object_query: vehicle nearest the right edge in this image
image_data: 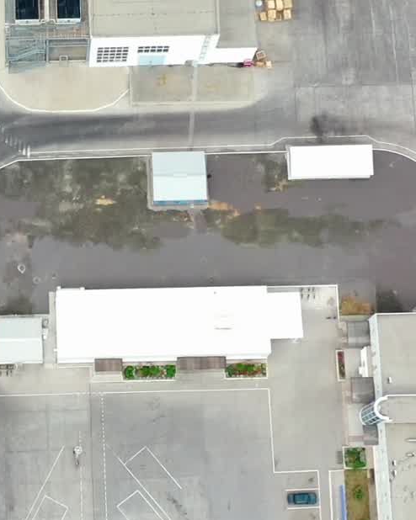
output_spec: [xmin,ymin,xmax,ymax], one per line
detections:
[285,491,315,505]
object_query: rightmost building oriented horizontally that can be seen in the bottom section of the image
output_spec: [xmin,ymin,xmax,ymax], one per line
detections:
[54,285,305,363]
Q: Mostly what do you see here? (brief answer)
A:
paved ground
